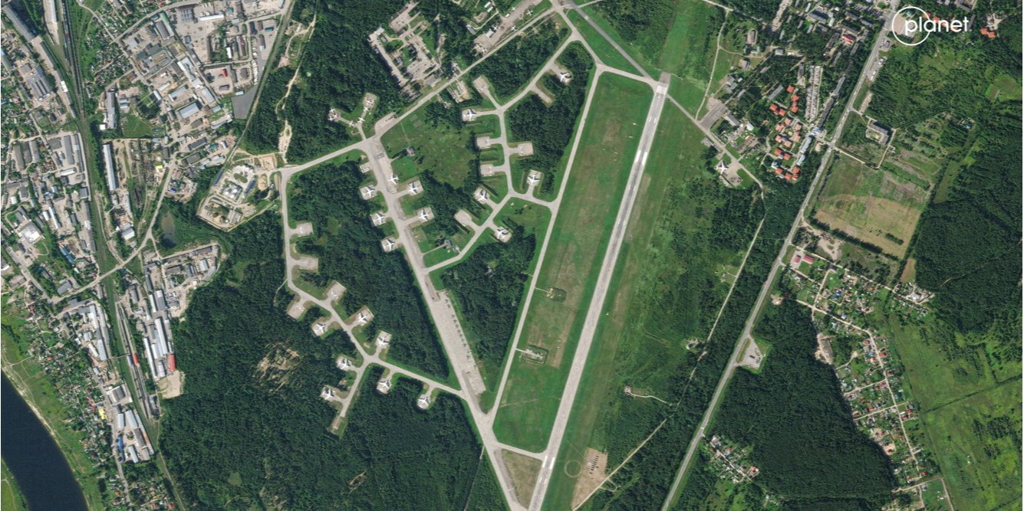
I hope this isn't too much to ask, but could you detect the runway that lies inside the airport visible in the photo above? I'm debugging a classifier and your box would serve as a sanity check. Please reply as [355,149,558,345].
[528,82,670,511]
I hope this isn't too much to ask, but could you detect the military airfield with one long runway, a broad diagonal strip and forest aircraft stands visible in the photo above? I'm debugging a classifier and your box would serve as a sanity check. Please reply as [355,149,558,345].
[271,0,744,511]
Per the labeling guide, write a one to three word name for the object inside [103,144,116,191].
building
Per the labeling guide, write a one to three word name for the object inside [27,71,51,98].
building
